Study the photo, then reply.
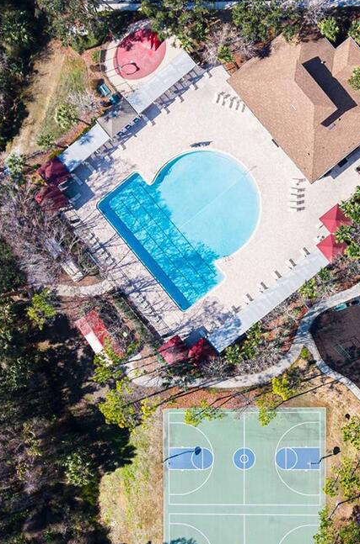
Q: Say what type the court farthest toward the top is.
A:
basketball court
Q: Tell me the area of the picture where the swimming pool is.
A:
center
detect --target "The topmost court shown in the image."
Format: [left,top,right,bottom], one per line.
[163,408,325,510]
